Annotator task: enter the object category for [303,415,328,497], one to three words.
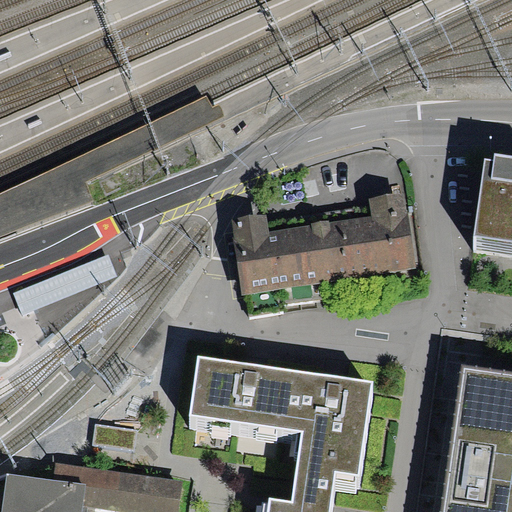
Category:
solar array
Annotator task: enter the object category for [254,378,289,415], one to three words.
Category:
solar array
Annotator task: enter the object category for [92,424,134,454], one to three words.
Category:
shed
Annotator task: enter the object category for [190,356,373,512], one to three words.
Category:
building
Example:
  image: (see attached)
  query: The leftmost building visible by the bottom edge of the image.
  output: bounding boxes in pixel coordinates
[2,474,86,512]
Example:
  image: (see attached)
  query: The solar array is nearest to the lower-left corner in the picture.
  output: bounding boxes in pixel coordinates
[210,372,234,408]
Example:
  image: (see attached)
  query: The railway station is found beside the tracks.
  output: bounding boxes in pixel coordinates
[0,0,505,190]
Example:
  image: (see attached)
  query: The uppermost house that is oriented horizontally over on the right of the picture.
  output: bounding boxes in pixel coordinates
[232,183,417,296]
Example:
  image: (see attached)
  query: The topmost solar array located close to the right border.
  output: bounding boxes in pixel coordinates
[461,372,512,436]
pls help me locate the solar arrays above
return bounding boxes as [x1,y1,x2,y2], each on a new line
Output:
[210,372,234,408]
[461,372,512,436]
[450,504,507,512]
[303,415,328,497]
[254,378,289,415]
[492,484,508,500]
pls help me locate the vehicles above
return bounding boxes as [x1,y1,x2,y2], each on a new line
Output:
[337,162,348,187]
[447,156,466,166]
[448,182,458,204]
[322,166,333,186]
